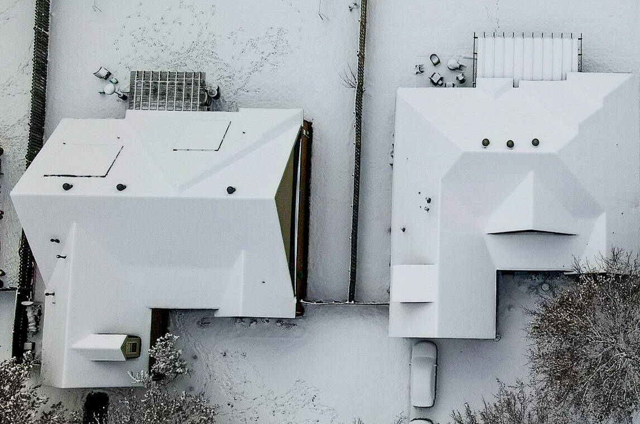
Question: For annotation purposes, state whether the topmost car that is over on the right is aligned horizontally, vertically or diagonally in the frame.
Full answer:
In this picture, the topmost car that is over on the right is oriented vertically.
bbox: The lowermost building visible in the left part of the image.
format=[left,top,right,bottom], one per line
[12,108,308,387]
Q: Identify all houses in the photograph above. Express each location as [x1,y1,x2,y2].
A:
[12,108,308,387]
[389,74,640,339]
